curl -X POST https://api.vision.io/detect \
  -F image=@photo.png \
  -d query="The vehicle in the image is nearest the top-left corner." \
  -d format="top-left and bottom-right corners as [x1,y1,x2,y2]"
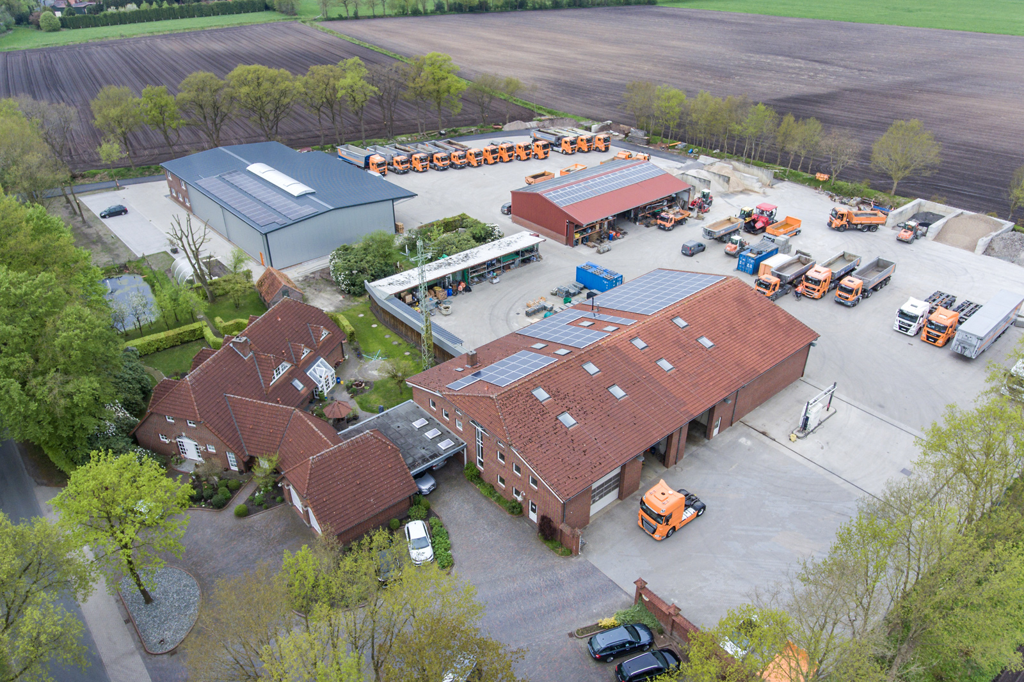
[99,203,128,216]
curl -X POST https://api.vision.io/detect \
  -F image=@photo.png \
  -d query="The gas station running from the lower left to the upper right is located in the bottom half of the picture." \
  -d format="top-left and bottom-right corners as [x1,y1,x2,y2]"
[796,386,840,442]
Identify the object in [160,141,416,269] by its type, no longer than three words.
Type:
building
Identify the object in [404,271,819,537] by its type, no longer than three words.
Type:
building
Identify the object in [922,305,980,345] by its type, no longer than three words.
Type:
truck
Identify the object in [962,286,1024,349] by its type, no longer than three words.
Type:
trailer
